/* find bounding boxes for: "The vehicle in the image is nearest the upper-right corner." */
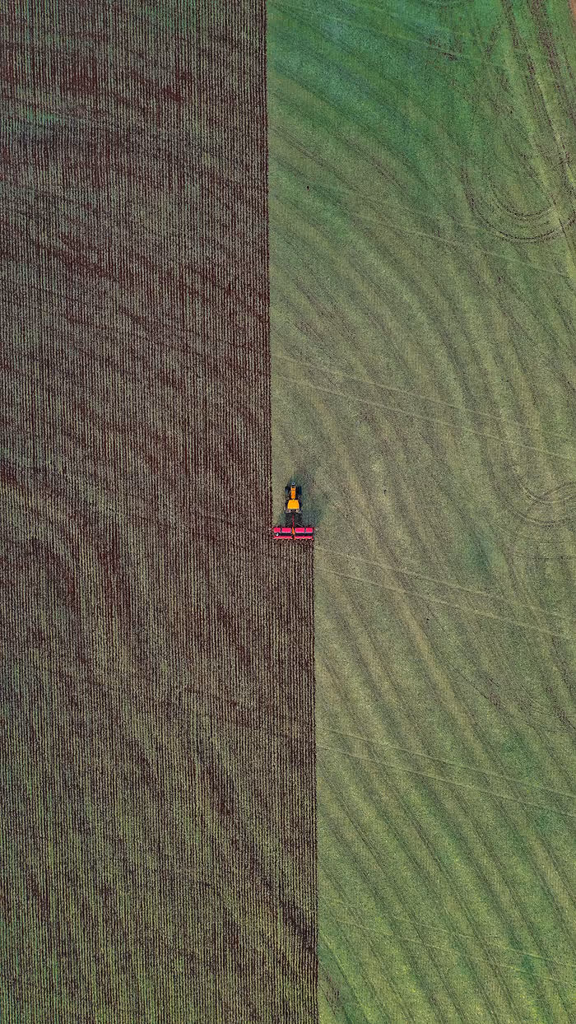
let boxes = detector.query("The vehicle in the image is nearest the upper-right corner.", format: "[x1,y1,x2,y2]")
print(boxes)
[283,481,303,515]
